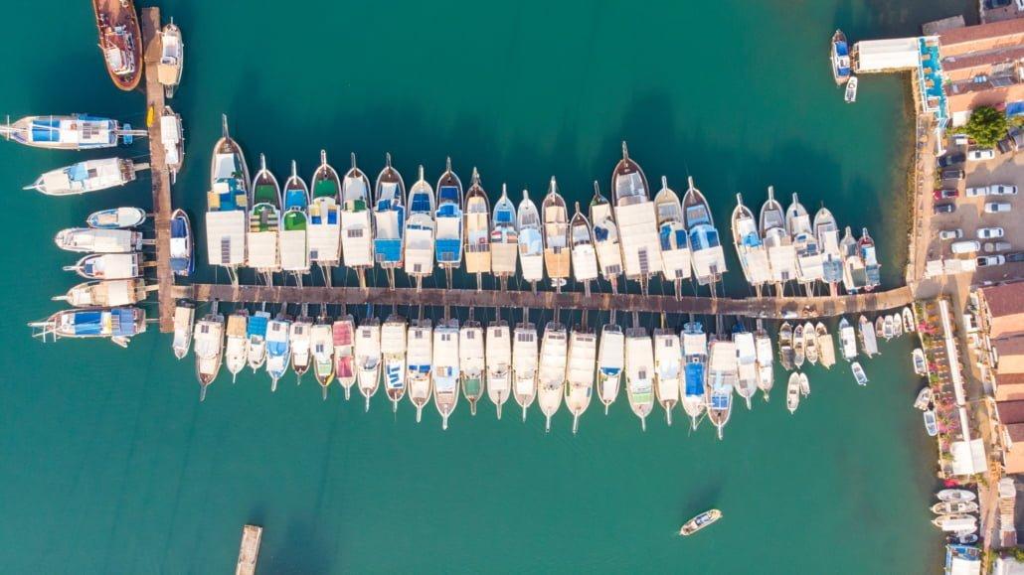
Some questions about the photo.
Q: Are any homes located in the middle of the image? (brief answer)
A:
No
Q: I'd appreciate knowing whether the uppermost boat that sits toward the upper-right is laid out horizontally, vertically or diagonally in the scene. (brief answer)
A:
vertically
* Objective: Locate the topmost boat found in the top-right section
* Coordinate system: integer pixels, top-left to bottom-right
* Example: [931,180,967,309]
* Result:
[827,29,850,86]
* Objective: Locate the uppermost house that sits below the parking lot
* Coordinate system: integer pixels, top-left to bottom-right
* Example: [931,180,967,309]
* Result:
[966,284,1024,339]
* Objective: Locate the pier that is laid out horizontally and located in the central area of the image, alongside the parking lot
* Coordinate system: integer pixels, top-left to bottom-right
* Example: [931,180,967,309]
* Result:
[175,285,913,319]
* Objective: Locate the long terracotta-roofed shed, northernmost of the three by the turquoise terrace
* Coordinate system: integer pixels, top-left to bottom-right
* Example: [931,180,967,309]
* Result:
[936,18,1024,58]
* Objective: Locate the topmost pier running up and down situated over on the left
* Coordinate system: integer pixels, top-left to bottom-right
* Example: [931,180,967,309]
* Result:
[146,7,174,332]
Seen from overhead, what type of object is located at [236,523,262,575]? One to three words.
pier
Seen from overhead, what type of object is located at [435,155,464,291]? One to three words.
boat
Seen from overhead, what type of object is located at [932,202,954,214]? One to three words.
vehicle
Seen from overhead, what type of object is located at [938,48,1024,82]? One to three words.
house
